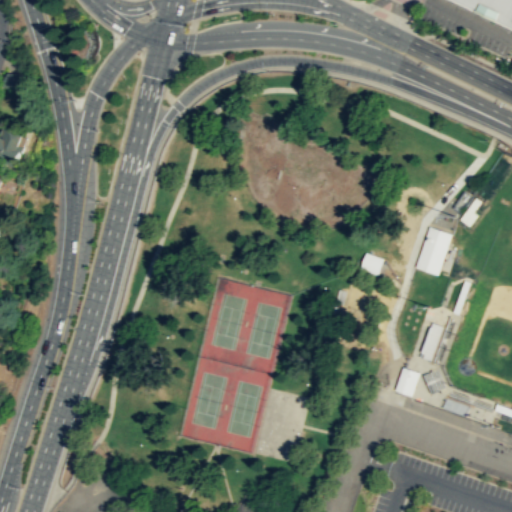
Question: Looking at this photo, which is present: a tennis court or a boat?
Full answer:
There is a tennis court in the scene.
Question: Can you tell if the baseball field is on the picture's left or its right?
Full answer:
The baseball field is on the right side of the image.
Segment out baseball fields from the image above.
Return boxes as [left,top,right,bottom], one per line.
[459,285,512,406]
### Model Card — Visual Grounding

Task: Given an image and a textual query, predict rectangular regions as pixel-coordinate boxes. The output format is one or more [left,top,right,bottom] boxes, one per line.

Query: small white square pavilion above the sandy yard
[360,252,384,276]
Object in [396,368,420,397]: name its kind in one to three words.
shed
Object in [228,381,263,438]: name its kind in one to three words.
tennis court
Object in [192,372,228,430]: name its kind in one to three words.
tennis court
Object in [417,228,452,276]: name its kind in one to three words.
barn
